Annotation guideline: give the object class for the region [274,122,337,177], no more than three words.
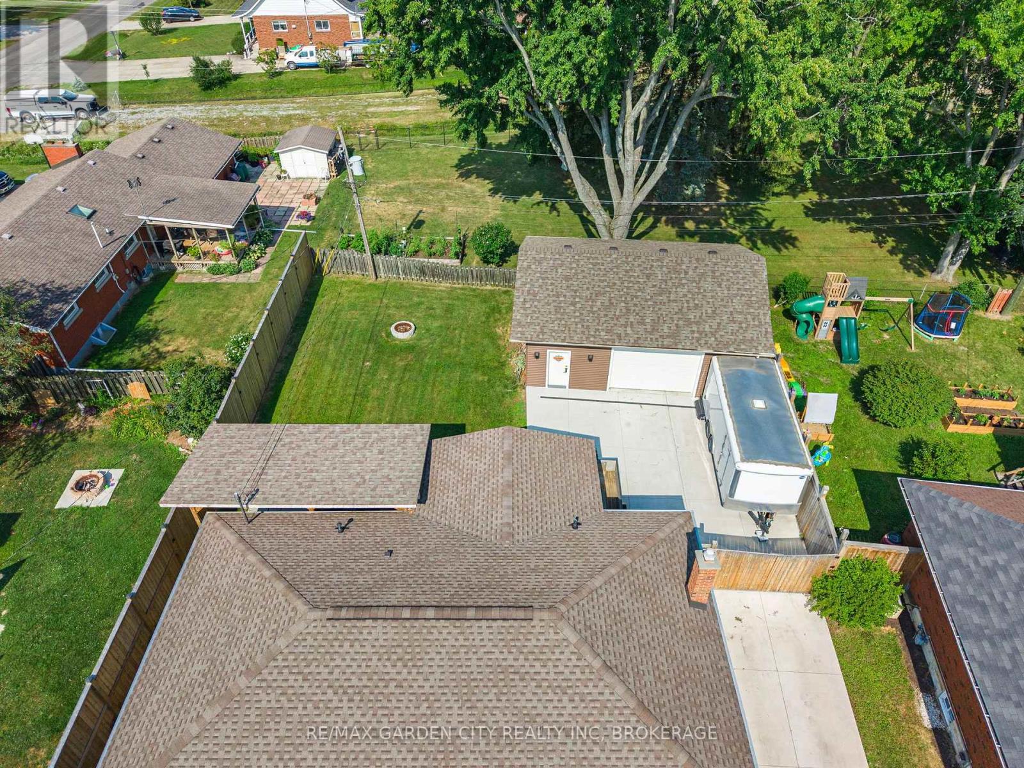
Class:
shed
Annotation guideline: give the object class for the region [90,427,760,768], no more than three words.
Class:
house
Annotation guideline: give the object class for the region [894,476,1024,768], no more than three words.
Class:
house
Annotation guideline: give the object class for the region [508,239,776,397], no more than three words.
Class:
building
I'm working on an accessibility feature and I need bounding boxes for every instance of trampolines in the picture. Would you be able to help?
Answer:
[915,292,971,341]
